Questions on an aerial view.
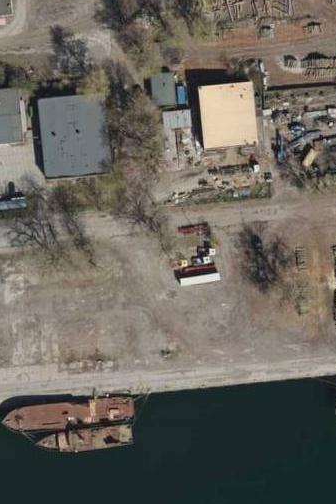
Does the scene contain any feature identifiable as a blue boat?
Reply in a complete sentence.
No, the photo shows no blue boat.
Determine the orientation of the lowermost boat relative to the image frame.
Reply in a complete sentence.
I'd say the lowermost boat is aligned horizontally in the picture.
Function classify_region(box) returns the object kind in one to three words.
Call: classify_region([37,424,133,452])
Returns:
boat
